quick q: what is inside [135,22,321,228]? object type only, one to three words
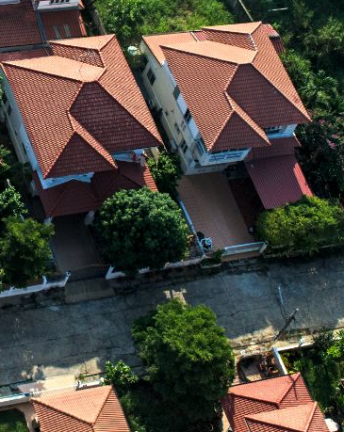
house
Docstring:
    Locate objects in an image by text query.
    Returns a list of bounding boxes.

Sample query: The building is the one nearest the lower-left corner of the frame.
[25,383,129,432]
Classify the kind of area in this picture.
residential area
